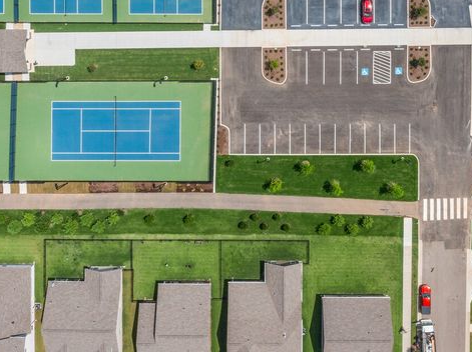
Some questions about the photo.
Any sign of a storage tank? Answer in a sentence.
No, I can see no storage tank in this picture.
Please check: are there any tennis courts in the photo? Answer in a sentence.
Yes, a tennis court appears in the view.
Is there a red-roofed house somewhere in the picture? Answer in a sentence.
No, there appears to be no red-roofed house in this shot.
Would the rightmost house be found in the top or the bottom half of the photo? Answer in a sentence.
The bottom half of the photo is where the rightmost house is.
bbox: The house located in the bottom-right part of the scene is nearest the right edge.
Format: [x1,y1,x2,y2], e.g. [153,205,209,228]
[322,295,394,352]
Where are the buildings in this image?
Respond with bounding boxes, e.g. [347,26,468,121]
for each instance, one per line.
[43,264,123,352]
[0,29,29,73]
[135,281,211,352]
[227,260,303,352]
[0,263,33,352]
[322,295,394,352]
